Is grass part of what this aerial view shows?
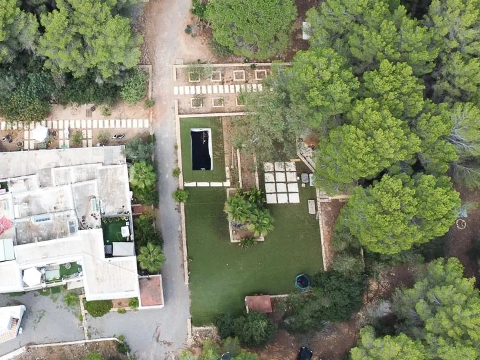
Yes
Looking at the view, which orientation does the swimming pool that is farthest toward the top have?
up and down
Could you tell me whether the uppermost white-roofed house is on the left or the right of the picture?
left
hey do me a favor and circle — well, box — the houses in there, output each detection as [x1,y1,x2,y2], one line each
[0,145,163,310]
[0,306,28,345]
